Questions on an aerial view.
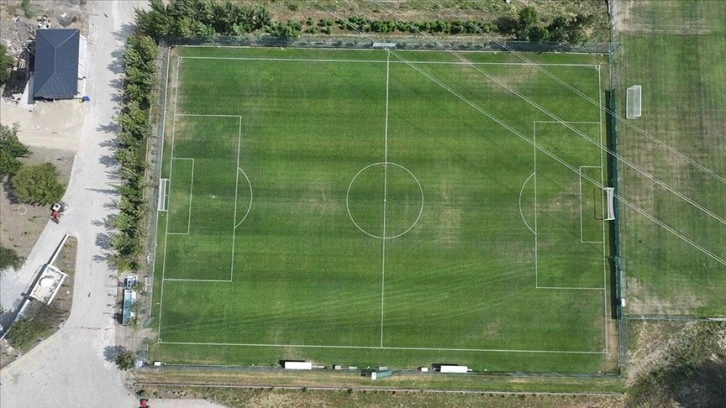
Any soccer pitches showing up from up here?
Yes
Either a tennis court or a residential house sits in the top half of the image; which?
residential house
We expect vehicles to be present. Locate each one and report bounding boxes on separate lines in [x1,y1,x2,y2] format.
[50,199,69,224]
[140,399,151,408]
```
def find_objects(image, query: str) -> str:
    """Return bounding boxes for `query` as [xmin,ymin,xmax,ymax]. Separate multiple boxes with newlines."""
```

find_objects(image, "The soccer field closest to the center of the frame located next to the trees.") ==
[147,48,619,375]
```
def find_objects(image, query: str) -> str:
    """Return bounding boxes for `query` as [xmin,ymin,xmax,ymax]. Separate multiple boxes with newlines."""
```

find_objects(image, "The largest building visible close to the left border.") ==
[33,29,85,101]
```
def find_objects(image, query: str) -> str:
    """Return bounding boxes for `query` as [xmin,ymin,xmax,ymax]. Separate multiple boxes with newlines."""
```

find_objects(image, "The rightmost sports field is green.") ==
[617,0,726,319]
